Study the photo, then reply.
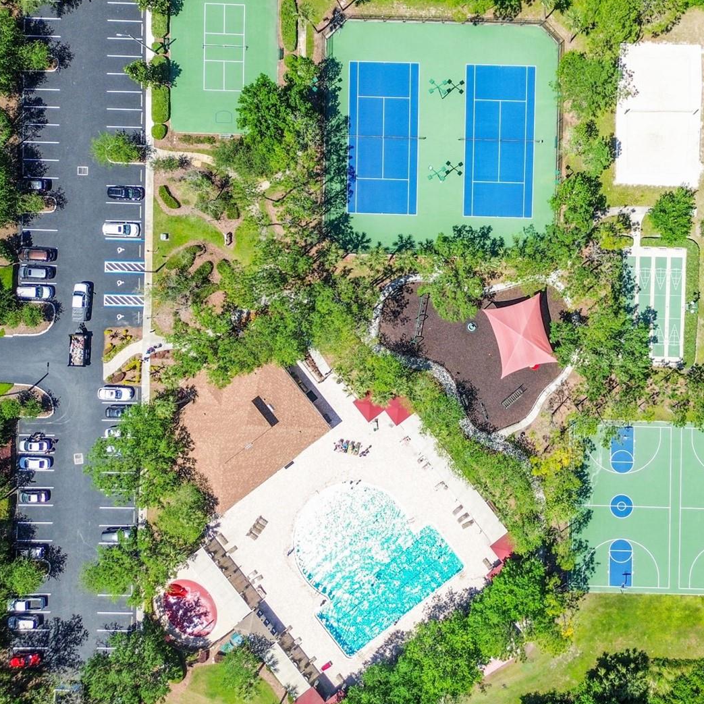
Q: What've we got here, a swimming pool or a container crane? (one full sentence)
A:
It is a swimming pool that can be seen here.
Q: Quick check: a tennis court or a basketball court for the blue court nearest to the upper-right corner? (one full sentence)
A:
It turns out the blue court nearest to the upper-right corner is a tennis court.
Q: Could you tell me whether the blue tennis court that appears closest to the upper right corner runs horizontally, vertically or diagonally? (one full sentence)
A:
I'd say the blue tennis court that appears closest to the upper right corner is aligned vertically in the picture.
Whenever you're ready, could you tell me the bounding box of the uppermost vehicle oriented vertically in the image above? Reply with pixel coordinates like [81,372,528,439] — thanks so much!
[70,285,89,324]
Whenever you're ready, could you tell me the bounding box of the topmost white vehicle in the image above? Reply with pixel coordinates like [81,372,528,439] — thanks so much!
[100,221,137,237]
